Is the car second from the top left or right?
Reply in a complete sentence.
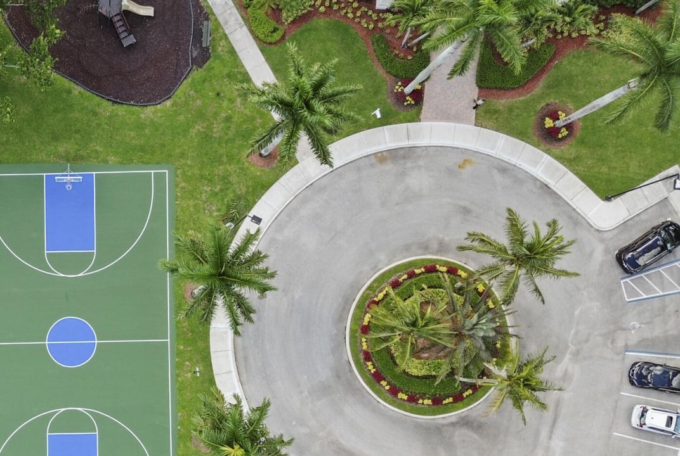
The car second from the top appears in the right half of the scene.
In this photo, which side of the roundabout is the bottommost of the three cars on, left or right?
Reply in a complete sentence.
Looking at the photo, the bottommost of the three cars lies to the right of the roundabout.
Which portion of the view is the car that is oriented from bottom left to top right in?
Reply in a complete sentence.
The car that is oriented from bottom left to top right sits in the right section of the image.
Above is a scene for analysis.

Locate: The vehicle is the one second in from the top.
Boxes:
[629,361,680,393]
